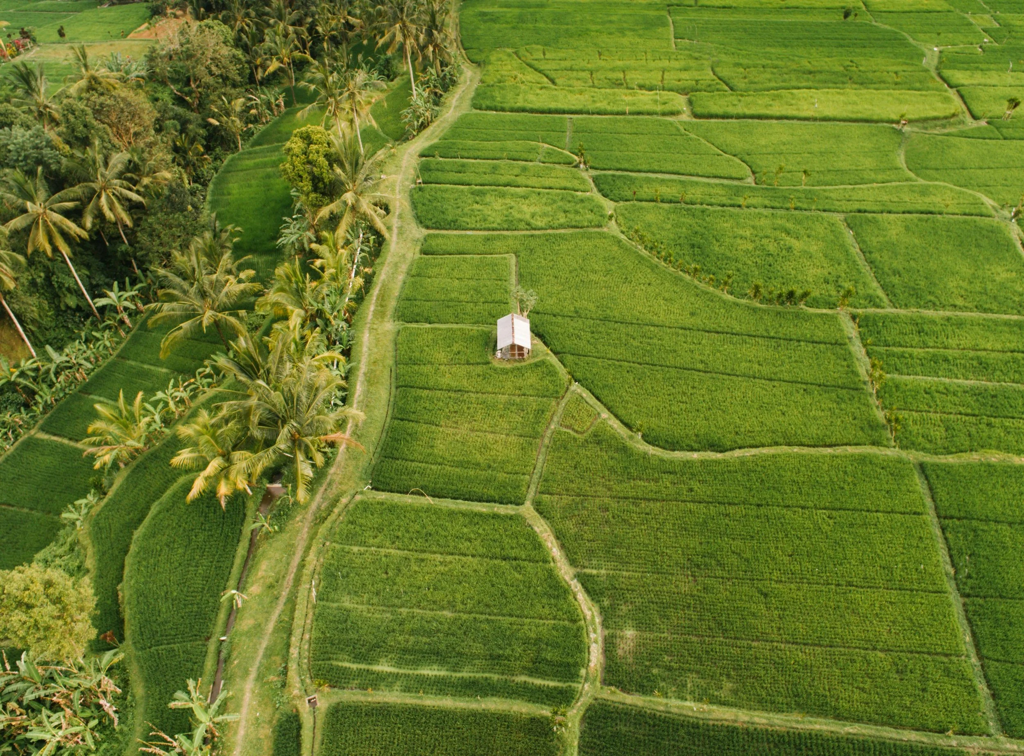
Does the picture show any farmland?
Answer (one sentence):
Yes, there is farmland in the image.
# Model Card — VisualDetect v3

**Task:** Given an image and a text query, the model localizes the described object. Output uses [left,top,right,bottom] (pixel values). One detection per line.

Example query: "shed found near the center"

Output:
[496,308,532,357]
